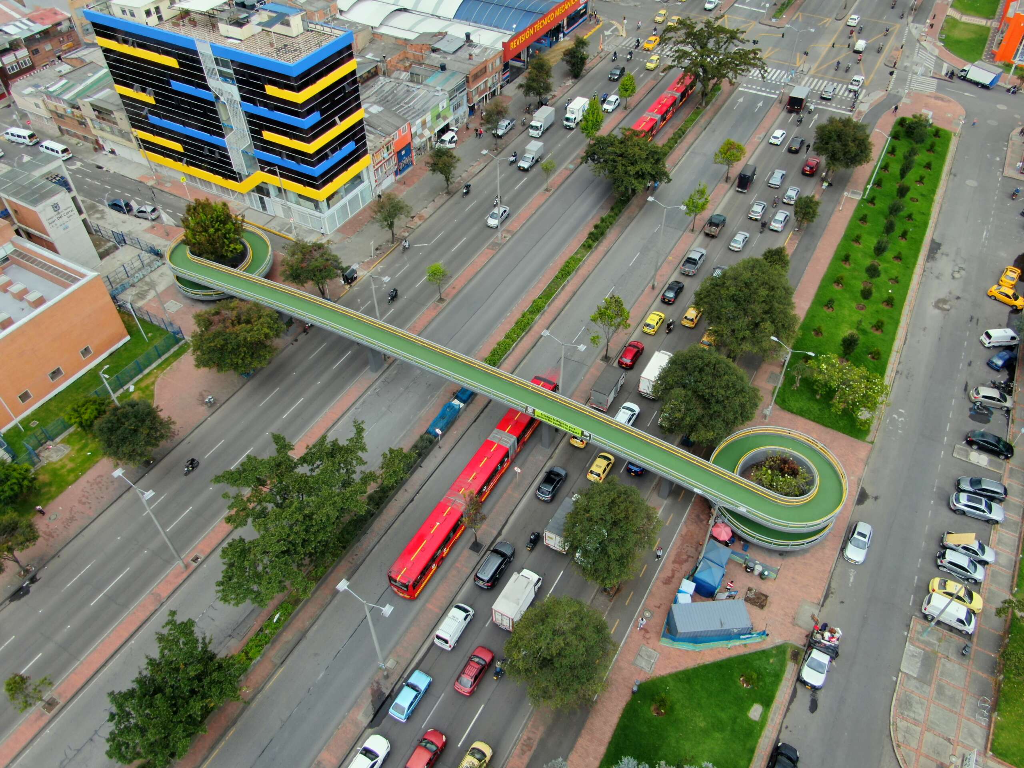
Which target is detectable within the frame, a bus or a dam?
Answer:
bus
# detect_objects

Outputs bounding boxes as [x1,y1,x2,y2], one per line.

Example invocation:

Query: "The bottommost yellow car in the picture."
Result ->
[456,737,492,768]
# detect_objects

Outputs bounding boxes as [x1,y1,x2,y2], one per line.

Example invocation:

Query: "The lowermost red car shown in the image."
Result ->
[401,727,445,768]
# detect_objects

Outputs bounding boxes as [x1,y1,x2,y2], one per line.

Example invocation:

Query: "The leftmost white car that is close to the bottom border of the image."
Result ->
[349,734,390,768]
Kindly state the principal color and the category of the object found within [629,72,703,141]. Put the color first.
red bus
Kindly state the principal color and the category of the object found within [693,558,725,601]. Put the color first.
blue tent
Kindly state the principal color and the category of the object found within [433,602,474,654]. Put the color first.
white van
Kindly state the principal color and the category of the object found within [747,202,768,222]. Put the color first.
gray car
